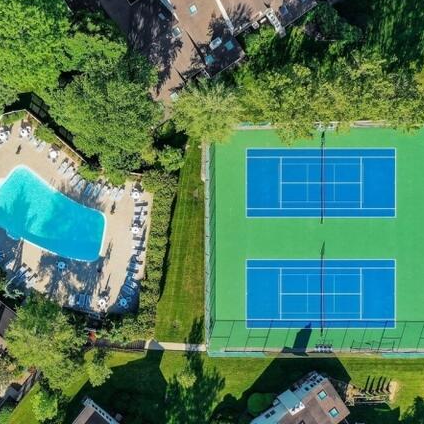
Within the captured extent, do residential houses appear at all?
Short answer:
Yes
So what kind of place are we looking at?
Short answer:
sports ground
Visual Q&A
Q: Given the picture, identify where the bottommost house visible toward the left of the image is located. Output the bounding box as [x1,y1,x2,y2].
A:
[68,392,122,424]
